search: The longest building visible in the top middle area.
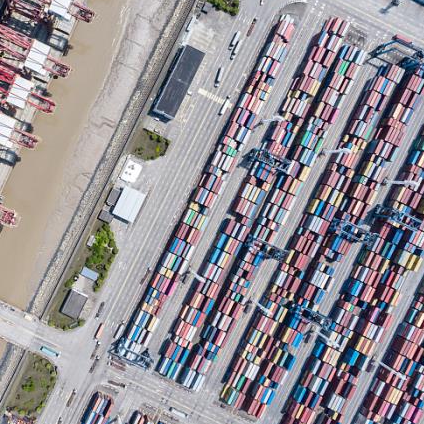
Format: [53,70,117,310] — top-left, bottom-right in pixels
[153,44,206,118]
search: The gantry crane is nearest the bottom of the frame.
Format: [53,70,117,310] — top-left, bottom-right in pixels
[104,330,156,374]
